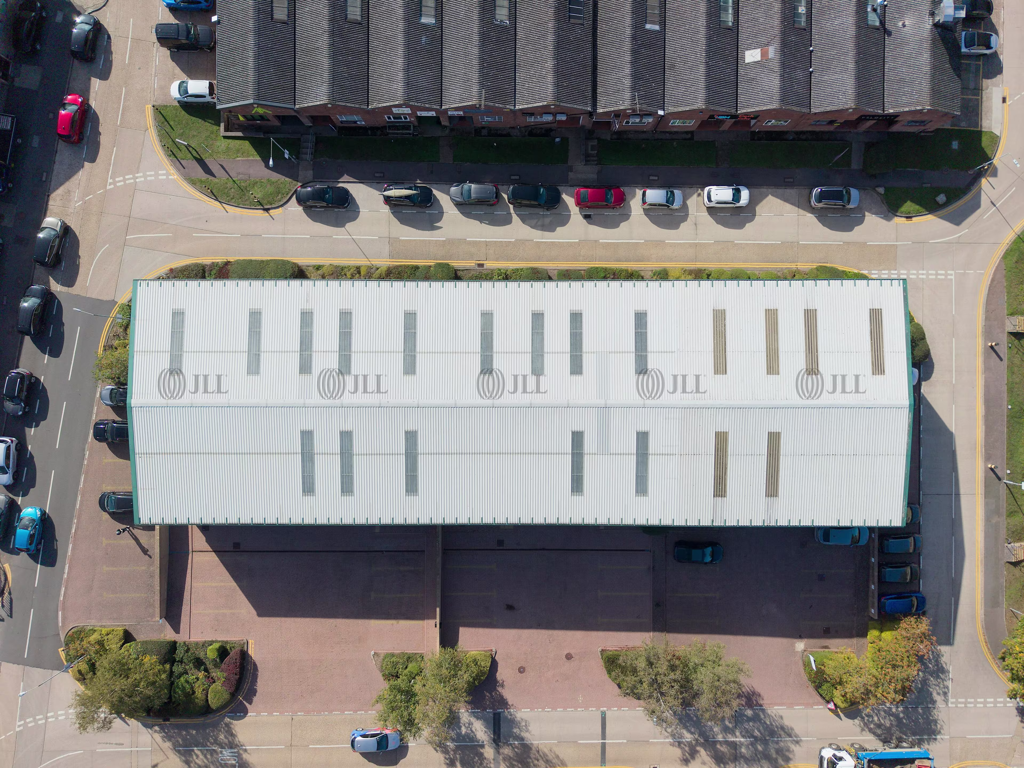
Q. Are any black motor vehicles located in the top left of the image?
Yes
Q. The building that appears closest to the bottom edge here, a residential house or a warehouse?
warehouse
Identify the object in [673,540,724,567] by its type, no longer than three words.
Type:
car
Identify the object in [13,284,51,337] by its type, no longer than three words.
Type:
car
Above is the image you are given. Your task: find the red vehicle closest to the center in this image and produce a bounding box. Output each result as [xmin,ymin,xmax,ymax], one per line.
[574,184,626,211]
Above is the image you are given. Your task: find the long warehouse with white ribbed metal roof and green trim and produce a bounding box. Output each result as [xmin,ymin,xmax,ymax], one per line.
[124,276,916,529]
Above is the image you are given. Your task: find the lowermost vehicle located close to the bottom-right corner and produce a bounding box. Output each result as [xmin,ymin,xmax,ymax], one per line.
[816,740,937,768]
